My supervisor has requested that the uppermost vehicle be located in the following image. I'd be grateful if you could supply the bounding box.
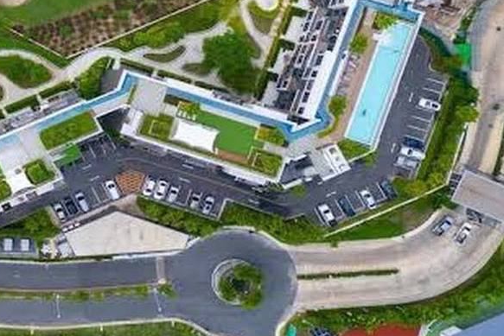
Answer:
[417,97,442,111]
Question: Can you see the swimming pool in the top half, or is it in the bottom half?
top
